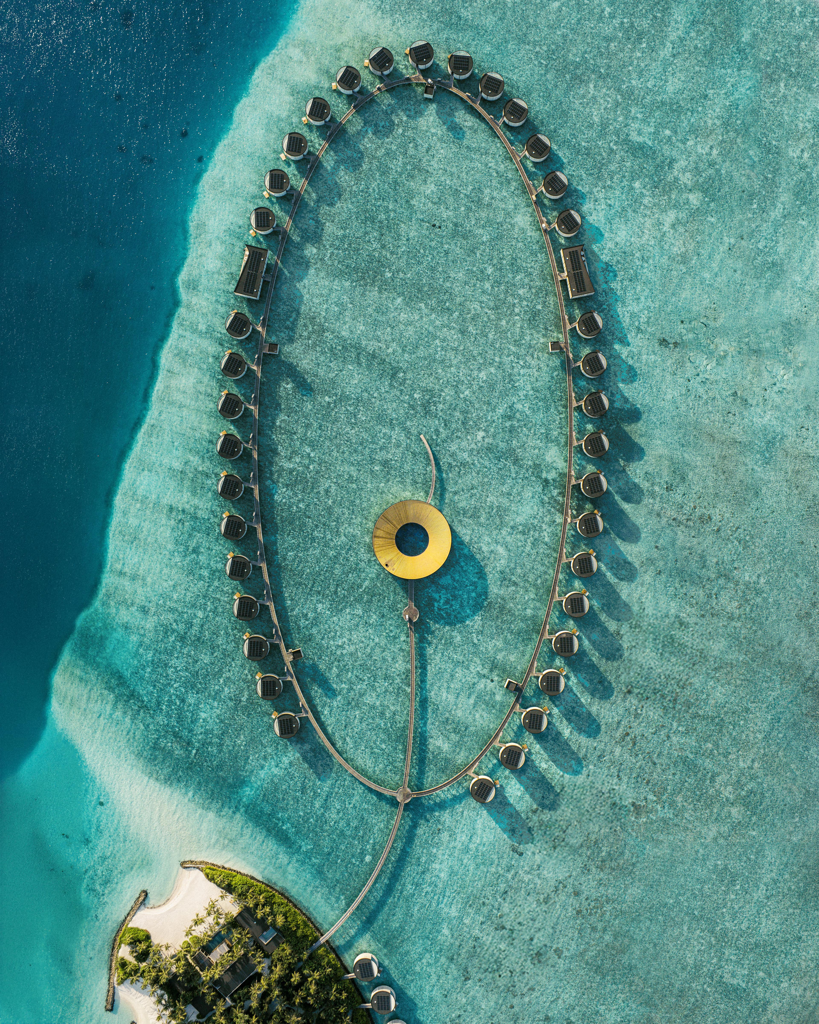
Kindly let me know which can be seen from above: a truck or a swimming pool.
swimming pool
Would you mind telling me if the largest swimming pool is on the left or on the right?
left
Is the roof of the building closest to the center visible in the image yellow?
Yes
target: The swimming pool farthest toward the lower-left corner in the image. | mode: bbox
[201,927,238,955]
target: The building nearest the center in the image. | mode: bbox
[372,500,452,579]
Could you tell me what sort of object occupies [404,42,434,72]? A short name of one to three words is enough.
house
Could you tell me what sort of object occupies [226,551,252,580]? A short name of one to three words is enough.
house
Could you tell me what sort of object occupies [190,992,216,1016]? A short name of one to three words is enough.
building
